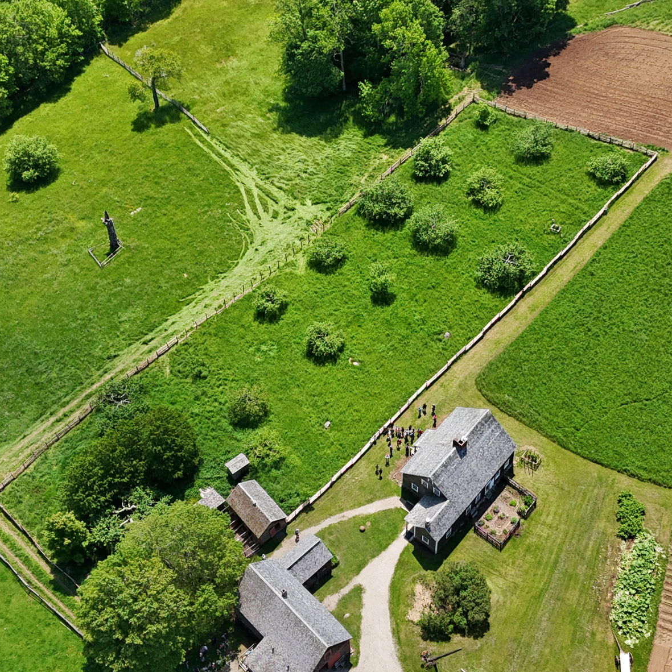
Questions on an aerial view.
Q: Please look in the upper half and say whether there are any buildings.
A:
No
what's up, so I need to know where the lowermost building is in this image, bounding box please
[232,534,353,672]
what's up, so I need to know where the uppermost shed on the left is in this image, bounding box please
[224,454,250,482]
